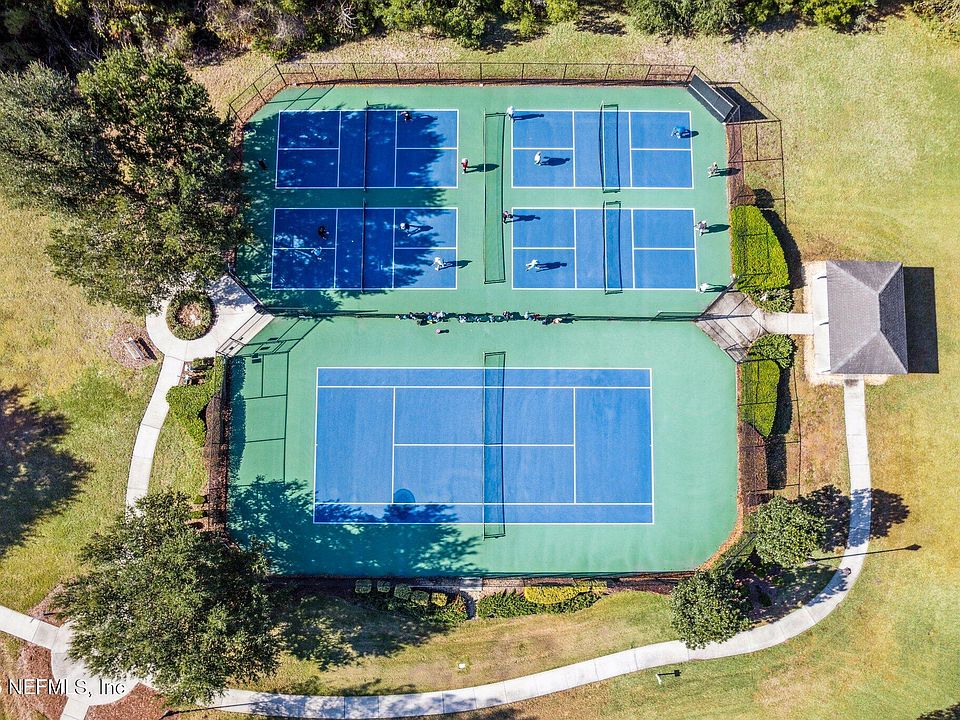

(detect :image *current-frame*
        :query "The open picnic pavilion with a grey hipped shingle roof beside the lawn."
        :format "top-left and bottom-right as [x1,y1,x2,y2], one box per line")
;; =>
[813,260,908,375]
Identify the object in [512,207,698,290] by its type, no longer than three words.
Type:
sports court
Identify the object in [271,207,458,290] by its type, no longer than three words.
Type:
sports court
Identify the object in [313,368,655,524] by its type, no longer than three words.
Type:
tennis court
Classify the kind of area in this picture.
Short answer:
sports ground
